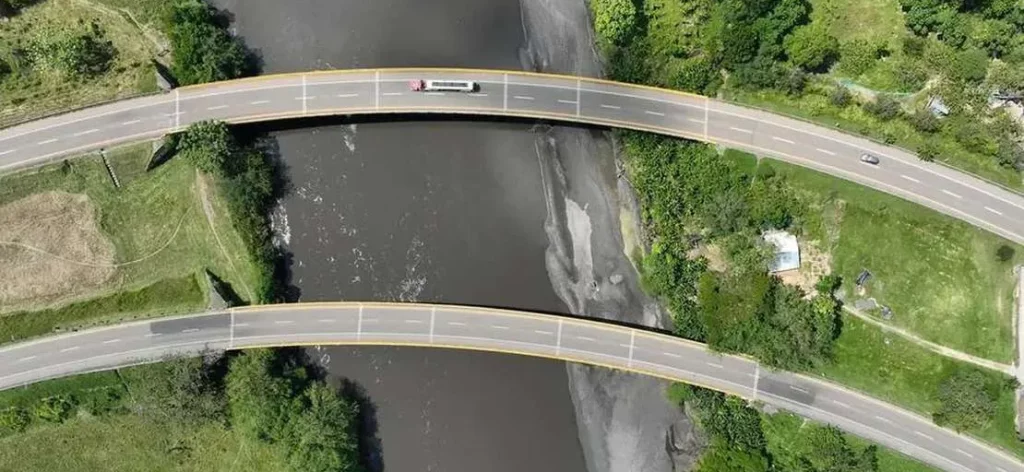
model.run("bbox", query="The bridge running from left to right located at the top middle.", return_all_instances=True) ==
[149,63,721,176]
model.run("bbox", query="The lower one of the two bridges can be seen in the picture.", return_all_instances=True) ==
[206,273,781,418]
